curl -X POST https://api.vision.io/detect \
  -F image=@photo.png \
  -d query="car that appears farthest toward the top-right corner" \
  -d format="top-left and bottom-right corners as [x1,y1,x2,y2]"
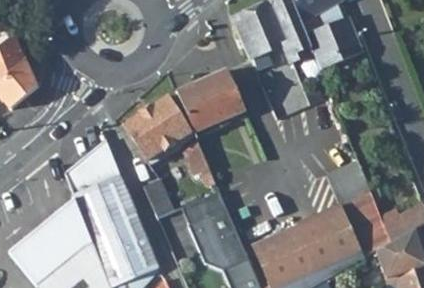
[316,106,332,128]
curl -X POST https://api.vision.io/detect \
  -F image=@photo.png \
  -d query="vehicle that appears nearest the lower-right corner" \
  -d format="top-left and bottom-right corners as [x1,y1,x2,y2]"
[330,146,346,167]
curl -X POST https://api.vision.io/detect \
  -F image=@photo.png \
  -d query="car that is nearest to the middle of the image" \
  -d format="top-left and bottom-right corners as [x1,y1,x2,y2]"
[170,162,184,184]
